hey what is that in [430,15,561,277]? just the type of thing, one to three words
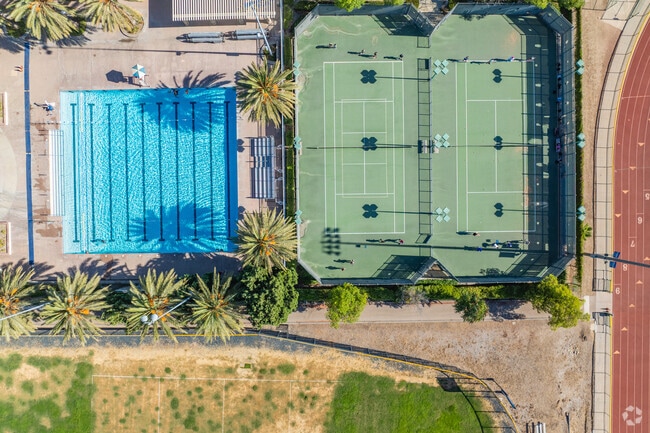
tennis court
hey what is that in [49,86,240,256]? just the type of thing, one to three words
swimming pool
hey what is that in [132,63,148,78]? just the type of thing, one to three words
umbrella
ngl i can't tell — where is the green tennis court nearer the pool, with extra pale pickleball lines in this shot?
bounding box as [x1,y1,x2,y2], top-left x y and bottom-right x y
[298,15,432,279]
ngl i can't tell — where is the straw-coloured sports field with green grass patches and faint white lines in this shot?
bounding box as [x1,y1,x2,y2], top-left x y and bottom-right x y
[0,330,513,433]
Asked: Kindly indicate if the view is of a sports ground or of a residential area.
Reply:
sports ground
